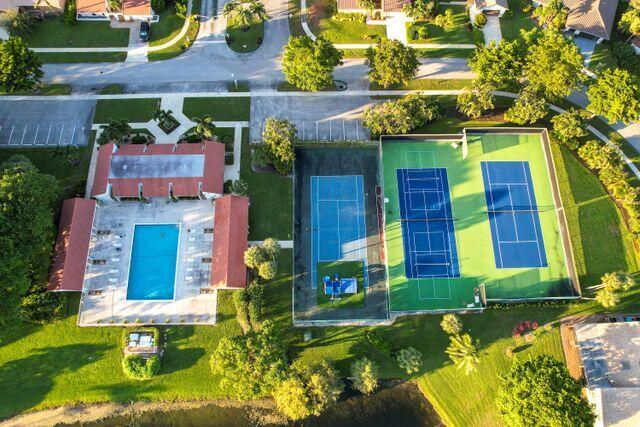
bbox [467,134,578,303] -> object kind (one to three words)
tennis court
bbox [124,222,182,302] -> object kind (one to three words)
swimming pool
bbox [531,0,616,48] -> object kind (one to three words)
house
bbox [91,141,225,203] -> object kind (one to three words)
building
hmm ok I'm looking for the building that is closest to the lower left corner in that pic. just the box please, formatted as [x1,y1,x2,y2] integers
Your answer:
[49,198,99,291]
